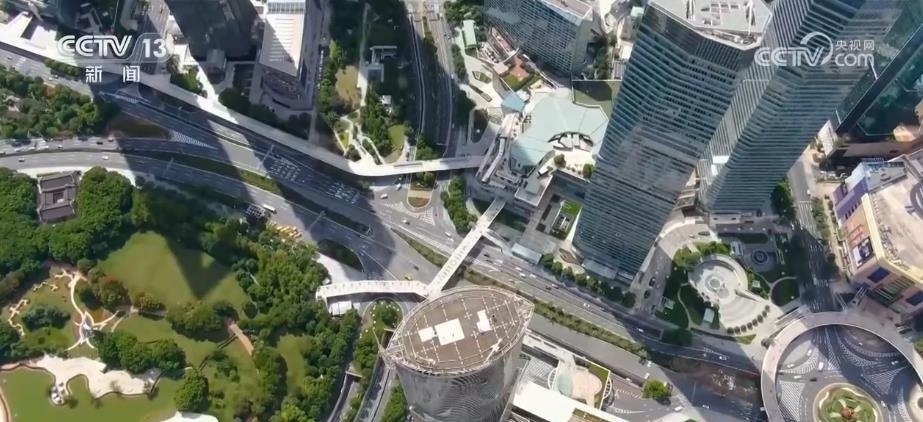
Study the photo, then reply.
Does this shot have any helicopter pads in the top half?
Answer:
No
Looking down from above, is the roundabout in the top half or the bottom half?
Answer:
bottom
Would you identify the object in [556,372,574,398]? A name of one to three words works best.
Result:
swimming pool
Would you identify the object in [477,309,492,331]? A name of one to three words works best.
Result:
helipad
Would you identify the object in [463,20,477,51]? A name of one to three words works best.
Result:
building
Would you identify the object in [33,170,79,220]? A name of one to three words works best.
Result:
house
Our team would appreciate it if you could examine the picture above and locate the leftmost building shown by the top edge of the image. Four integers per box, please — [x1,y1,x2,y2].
[33,0,71,31]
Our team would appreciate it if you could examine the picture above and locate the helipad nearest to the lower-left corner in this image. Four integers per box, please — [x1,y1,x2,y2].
[419,325,437,342]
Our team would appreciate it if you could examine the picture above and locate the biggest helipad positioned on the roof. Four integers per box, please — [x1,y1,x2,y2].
[440,318,463,344]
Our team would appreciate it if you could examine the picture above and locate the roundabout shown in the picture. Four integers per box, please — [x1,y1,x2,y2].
[750,313,923,422]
